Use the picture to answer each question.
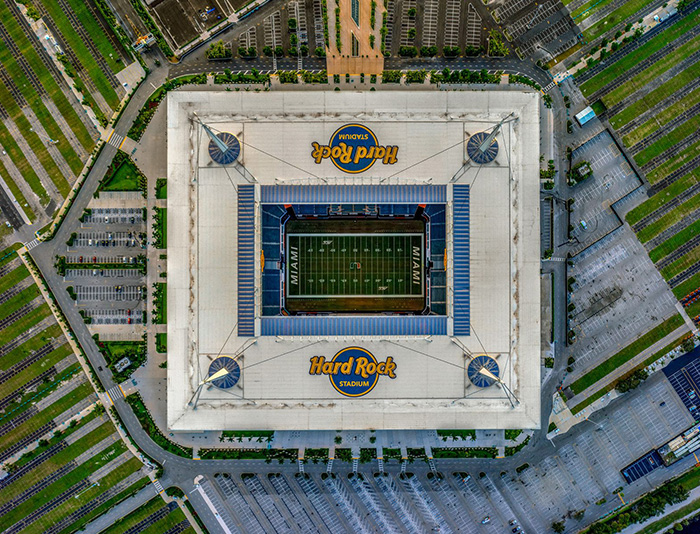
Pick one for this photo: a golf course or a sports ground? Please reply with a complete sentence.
It's a sports ground.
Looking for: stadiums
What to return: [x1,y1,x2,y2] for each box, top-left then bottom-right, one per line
[167,92,540,430]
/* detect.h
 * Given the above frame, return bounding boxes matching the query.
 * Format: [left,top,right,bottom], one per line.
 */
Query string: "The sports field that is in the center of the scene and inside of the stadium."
[284,222,427,308]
